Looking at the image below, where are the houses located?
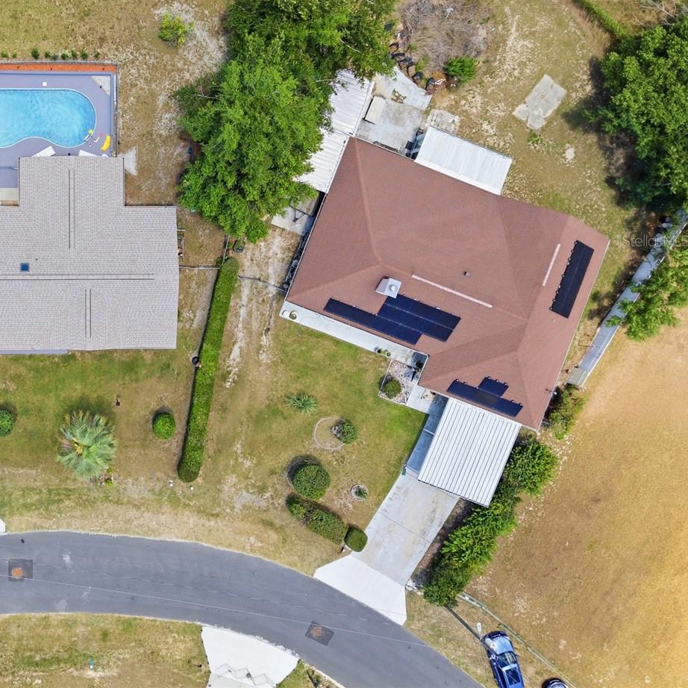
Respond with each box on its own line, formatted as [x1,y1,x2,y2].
[285,138,610,431]
[0,155,178,353]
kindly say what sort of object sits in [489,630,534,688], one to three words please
car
